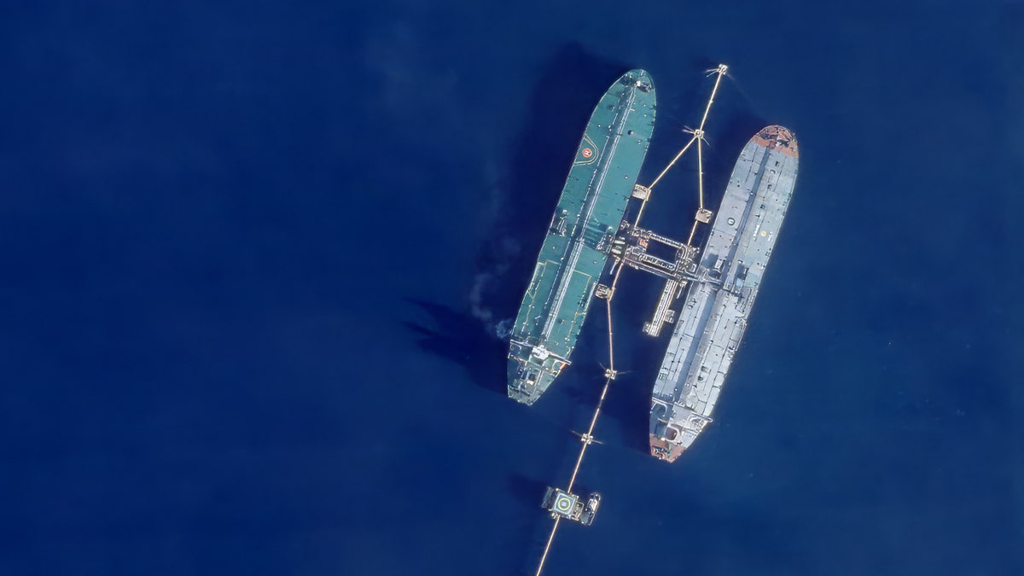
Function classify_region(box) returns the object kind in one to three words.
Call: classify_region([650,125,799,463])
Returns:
ship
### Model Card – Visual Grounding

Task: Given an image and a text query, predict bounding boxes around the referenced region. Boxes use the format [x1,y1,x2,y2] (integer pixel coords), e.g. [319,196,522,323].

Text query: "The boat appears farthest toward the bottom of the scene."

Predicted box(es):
[580,492,601,525]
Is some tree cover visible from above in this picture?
No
